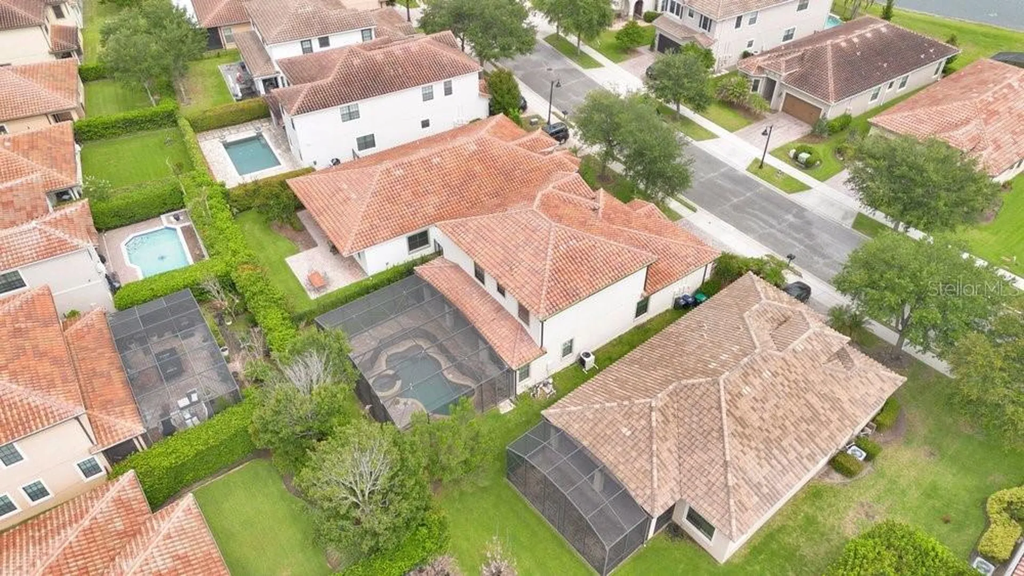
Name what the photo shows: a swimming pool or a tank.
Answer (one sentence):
There is a swimming pool in the scene.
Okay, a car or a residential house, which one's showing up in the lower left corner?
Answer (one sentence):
It is a residential house that can be seen in the lower left corner.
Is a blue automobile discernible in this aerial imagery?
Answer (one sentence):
No, the scene contains no blue automobile.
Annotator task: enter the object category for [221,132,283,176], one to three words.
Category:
swimming pool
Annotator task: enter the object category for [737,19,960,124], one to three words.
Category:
house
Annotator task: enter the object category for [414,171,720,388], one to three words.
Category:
house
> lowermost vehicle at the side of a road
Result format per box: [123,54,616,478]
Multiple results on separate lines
[781,280,820,308]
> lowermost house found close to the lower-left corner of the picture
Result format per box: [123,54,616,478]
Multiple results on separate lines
[0,469,231,576]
